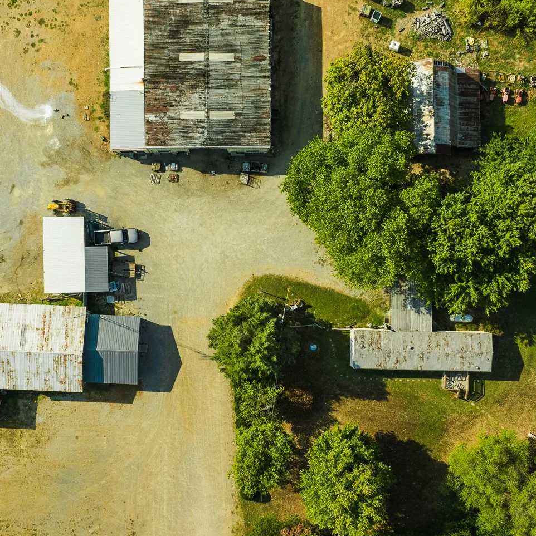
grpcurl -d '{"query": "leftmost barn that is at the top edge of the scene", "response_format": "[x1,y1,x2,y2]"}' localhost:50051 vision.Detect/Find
[106,0,272,157]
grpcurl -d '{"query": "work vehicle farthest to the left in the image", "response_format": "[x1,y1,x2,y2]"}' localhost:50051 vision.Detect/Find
[45,199,84,216]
